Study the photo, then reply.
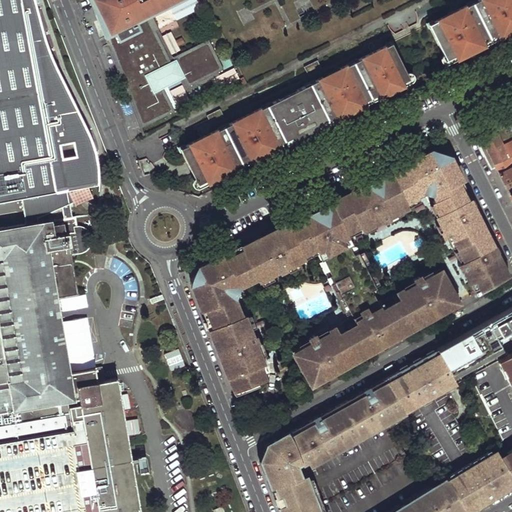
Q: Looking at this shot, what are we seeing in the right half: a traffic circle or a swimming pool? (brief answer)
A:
swimming pool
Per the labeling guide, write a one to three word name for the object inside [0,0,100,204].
building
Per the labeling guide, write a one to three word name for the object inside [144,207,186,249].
roundabout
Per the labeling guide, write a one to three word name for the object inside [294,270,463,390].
building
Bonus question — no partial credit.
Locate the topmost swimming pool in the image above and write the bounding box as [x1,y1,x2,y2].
[376,228,418,267]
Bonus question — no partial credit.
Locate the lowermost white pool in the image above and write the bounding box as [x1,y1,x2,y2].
[286,283,332,318]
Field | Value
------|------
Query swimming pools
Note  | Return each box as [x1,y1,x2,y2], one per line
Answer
[286,283,332,318]
[376,228,418,267]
